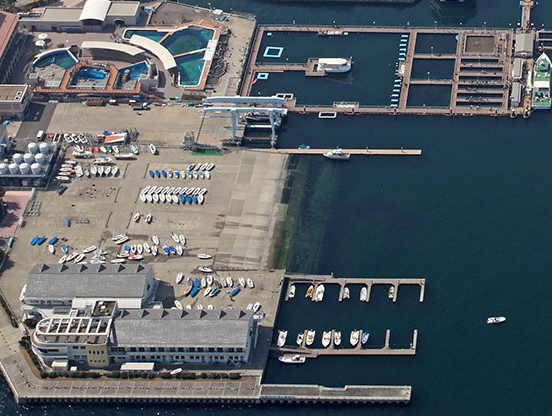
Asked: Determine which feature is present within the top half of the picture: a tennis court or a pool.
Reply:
pool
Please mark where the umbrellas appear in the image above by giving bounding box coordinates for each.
[33,38,45,50]
[35,31,48,40]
